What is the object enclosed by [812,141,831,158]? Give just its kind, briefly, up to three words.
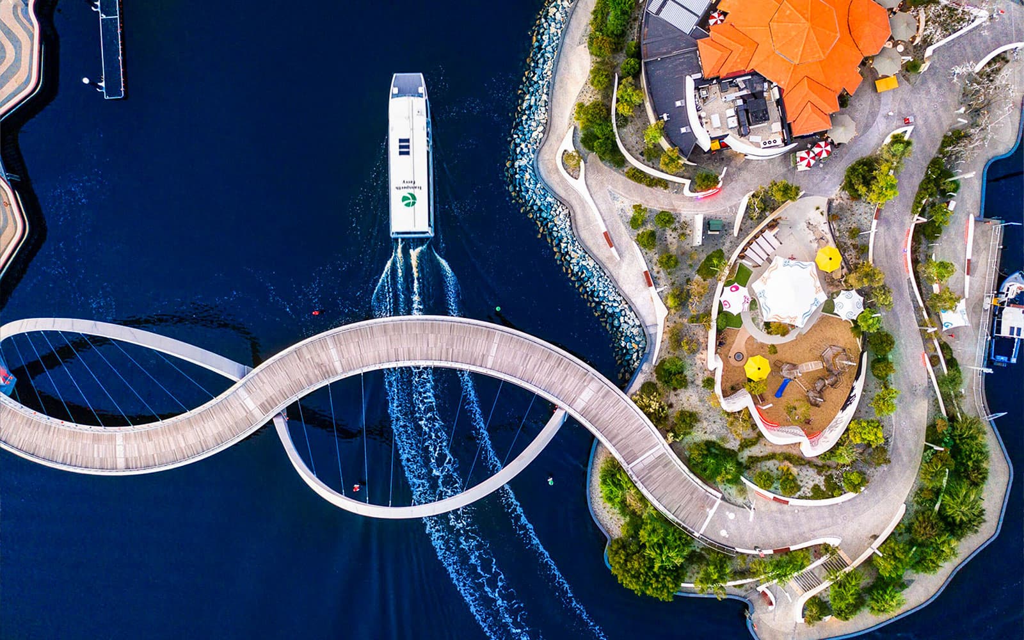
umbrella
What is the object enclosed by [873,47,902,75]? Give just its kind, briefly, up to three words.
umbrella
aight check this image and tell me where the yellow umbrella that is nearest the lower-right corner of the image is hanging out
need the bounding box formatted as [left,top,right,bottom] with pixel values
[745,355,770,381]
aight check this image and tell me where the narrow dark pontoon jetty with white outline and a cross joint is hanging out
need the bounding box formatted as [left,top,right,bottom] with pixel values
[97,0,127,99]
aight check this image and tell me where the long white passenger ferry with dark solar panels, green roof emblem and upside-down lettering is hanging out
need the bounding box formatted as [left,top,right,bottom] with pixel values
[389,72,435,239]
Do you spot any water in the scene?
Yes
